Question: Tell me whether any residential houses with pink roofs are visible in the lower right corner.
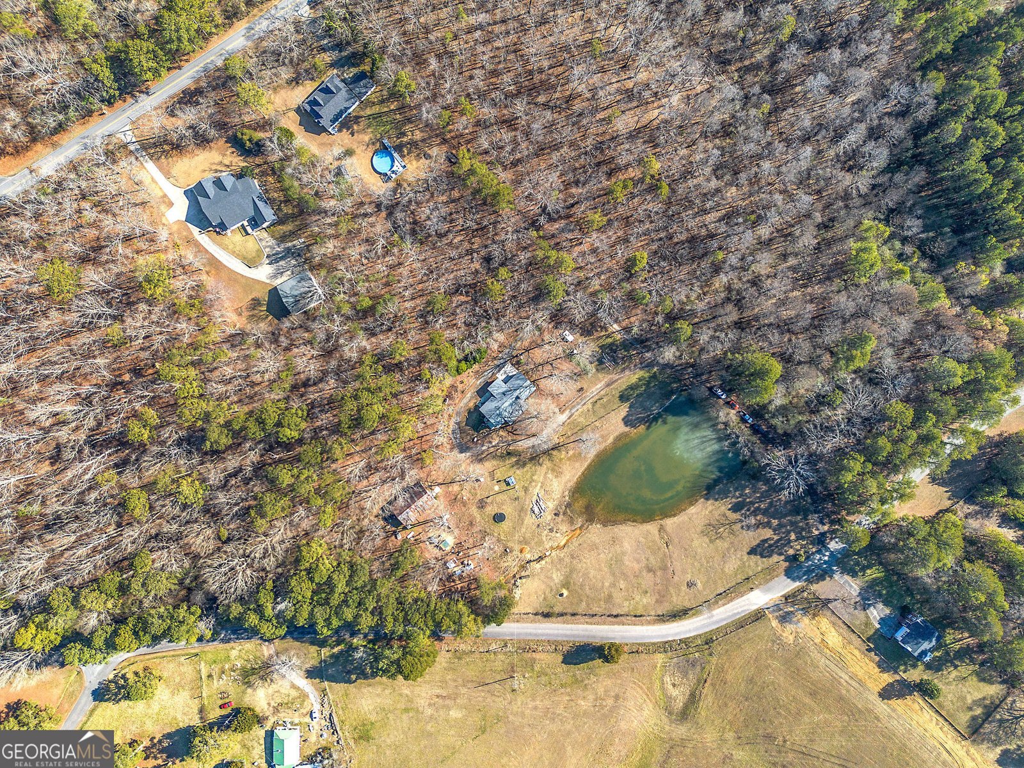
No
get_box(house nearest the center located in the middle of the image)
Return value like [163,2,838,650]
[478,362,536,428]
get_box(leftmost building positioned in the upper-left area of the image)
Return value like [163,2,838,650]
[191,172,276,234]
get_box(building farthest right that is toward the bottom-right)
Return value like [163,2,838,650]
[894,609,942,662]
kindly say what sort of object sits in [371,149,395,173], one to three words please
swimming pool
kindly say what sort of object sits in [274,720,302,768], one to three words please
house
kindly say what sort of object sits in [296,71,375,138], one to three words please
house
